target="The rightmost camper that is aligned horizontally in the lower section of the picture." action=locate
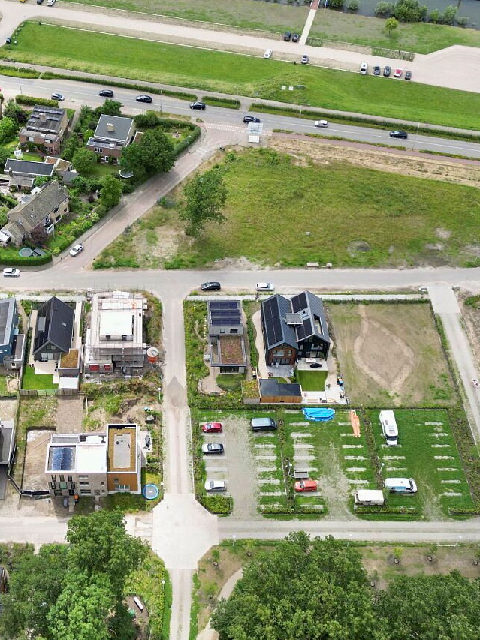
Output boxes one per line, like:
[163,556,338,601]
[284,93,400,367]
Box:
[383,477,417,493]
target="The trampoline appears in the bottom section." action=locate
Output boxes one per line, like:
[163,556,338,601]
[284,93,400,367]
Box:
[143,483,161,501]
